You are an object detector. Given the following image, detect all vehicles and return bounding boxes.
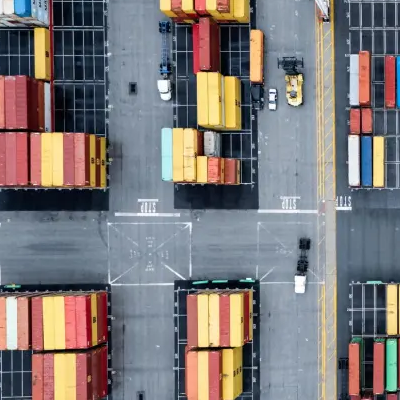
[337,357,348,400]
[276,58,303,105]
[291,239,307,294]
[157,20,173,100]
[268,88,275,110]
[248,75,262,109]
